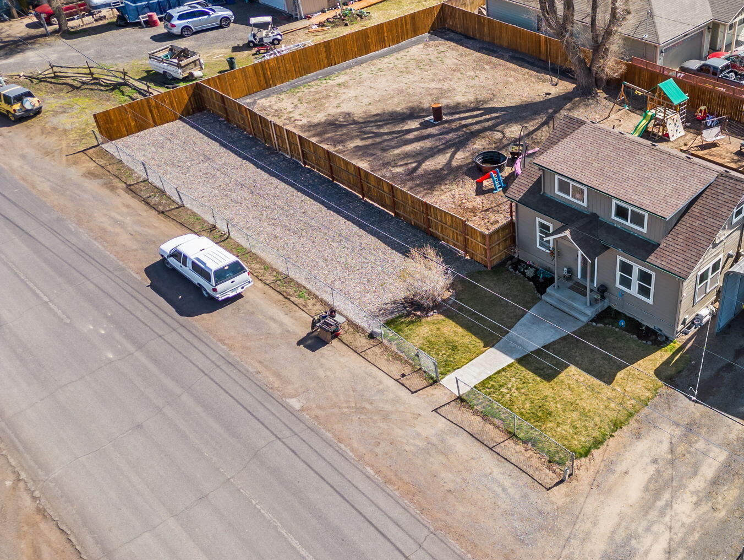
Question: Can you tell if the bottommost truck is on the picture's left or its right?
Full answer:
The bottommost truck sits on the left side.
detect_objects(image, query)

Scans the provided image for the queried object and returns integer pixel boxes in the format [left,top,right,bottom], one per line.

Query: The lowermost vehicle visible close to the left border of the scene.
[0,75,43,117]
